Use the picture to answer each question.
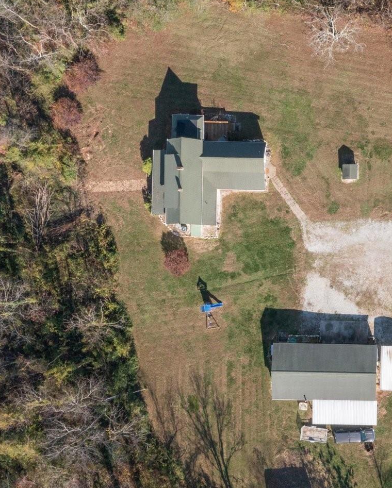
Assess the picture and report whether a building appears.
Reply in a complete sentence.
Yes, I can see a building in this picture.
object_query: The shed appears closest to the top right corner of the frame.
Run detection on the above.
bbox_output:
[341,163,358,183]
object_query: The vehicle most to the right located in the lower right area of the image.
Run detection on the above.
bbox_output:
[335,428,377,445]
